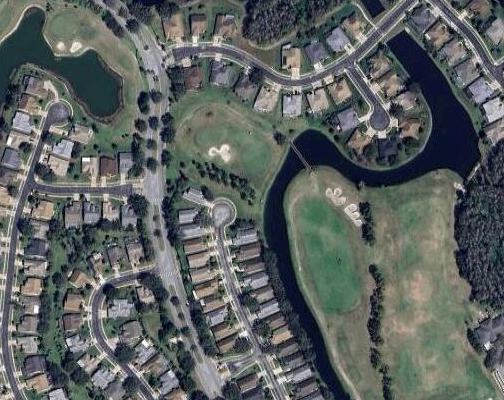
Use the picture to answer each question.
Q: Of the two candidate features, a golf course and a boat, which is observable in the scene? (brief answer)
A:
golf course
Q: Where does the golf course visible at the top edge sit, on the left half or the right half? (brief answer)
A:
left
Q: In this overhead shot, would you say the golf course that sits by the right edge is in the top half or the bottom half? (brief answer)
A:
bottom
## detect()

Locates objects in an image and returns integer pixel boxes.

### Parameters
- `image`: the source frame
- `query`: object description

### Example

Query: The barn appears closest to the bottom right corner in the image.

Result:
[471,313,504,359]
